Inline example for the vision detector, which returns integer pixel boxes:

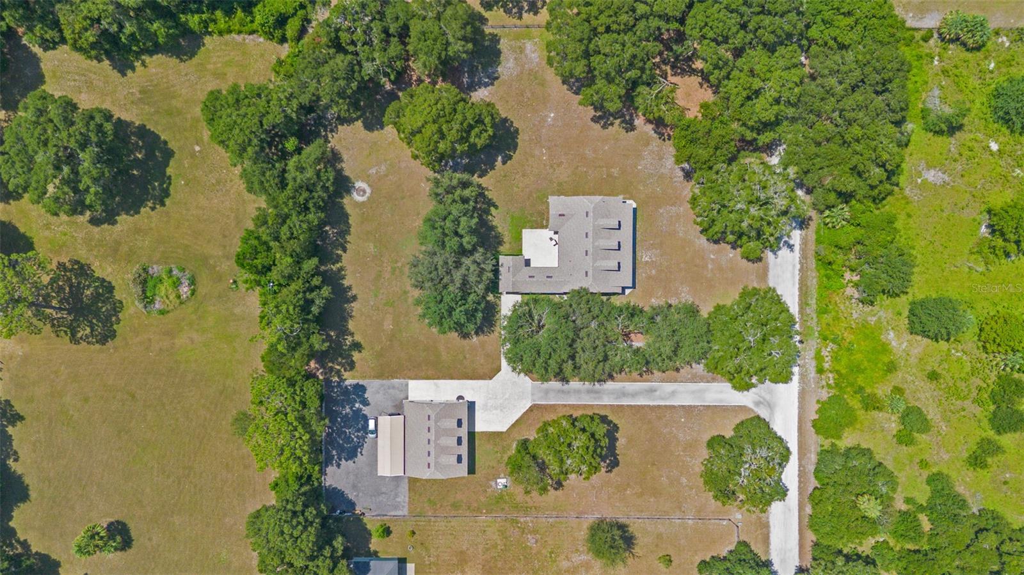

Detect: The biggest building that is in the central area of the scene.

[499,194,633,293]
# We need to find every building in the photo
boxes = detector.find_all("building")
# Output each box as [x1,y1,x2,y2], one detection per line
[499,194,633,293]
[347,556,399,575]
[405,400,468,477]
